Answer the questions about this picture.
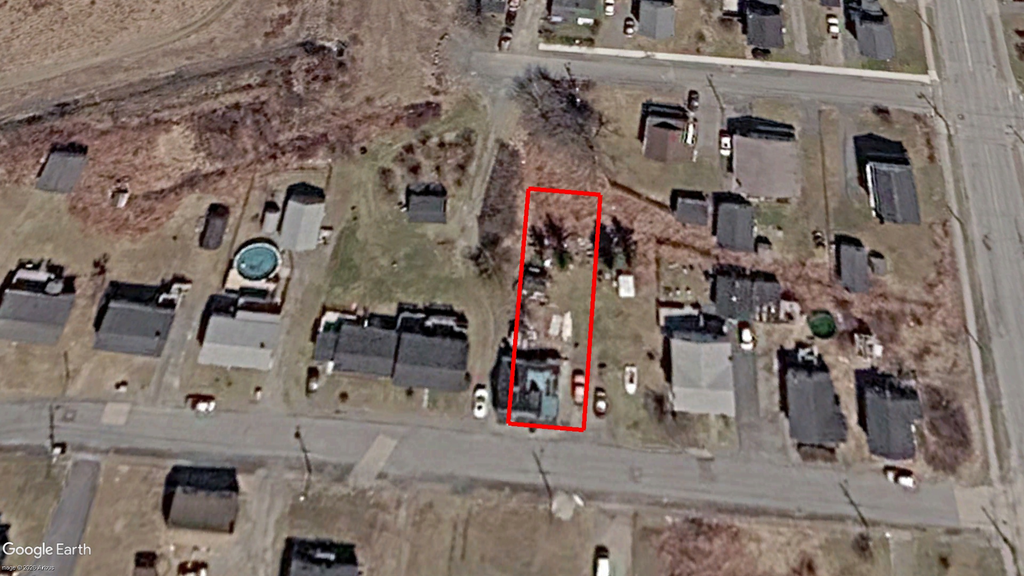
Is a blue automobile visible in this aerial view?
No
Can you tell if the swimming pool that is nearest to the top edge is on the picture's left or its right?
left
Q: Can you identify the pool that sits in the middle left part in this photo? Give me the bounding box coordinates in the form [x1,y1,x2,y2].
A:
[232,240,280,280]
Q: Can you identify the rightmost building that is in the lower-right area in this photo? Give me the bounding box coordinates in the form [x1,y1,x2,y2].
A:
[867,387,919,459]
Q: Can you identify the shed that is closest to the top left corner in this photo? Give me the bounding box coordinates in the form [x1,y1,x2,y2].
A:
[36,151,87,192]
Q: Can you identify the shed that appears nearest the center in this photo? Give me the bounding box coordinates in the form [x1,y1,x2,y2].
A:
[524,267,545,291]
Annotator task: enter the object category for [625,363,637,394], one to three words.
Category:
boat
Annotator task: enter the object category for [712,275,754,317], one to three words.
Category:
building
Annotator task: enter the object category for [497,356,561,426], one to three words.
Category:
house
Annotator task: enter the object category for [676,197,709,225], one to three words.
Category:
shed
